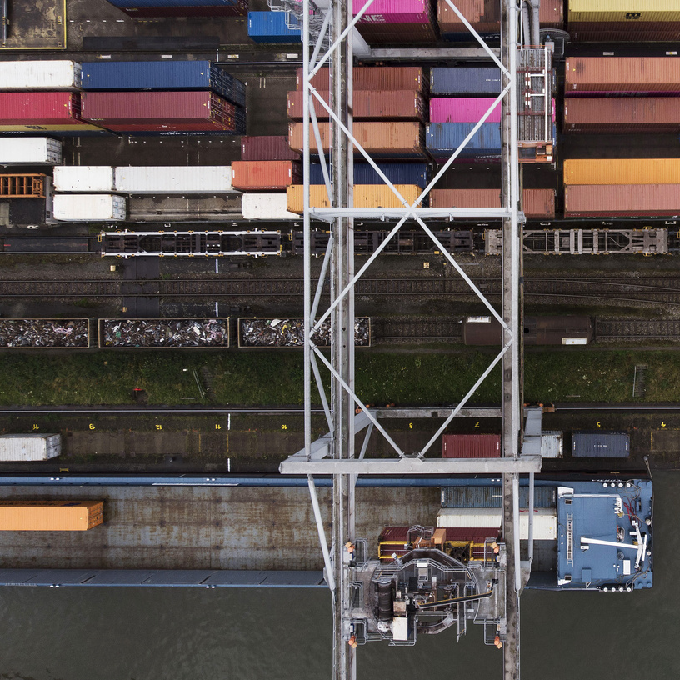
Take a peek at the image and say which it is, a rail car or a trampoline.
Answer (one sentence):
Of the two, only a rail car appears.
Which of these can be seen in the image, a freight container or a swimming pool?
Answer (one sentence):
Visible in the photo is a freight container.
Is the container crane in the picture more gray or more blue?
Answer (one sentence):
The container crane looks gray in the image.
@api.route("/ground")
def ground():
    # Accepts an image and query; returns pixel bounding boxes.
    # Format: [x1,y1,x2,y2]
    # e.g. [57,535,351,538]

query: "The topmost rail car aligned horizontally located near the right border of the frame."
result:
[480,227,673,256]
